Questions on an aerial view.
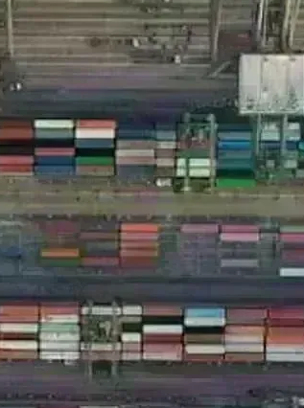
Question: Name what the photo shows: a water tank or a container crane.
container crane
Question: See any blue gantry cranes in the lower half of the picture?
No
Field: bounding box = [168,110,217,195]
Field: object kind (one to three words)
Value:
container crane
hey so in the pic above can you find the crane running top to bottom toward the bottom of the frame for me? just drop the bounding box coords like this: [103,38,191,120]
[77,287,122,385]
